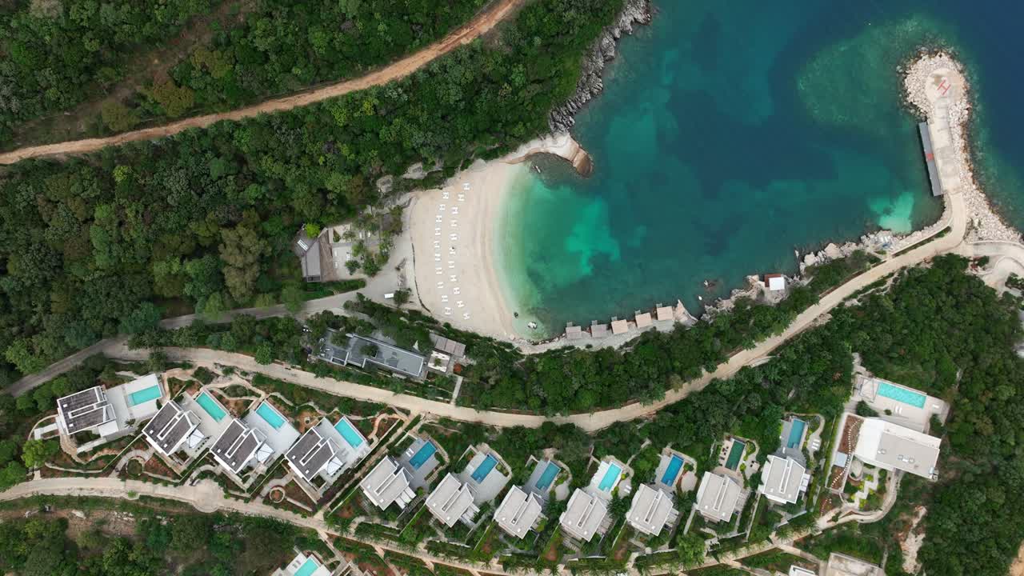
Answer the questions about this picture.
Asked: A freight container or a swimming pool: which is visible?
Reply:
swimming pool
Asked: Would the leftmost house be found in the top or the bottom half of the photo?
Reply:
bottom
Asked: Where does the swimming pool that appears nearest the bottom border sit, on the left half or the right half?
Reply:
left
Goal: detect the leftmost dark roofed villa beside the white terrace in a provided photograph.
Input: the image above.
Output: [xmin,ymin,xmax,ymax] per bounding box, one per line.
[56,386,124,435]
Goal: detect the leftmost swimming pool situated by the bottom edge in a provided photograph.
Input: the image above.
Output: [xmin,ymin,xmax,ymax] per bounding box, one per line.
[292,556,320,576]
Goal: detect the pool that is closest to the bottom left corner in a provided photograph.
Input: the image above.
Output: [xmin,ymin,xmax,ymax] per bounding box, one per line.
[126,384,162,408]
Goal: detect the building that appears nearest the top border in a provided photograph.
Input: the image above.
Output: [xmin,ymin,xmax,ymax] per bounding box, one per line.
[294,225,338,280]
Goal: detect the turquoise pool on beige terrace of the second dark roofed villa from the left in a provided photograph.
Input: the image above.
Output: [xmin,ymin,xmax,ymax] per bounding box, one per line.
[193,390,227,423]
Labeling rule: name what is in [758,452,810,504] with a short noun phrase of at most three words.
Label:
house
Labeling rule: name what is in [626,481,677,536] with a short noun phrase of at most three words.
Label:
house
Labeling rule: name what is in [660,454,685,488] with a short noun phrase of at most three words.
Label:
swimming pool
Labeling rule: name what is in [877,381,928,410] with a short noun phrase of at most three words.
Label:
swimming pool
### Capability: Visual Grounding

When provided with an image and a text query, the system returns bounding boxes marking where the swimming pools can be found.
[193,390,227,423]
[877,381,928,410]
[255,401,285,431]
[786,418,807,449]
[292,556,320,576]
[408,440,437,472]
[126,384,162,408]
[534,461,561,494]
[333,418,363,449]
[597,462,623,494]
[470,455,499,485]
[660,454,685,488]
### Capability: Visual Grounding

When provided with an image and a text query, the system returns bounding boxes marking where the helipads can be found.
[924,67,965,106]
